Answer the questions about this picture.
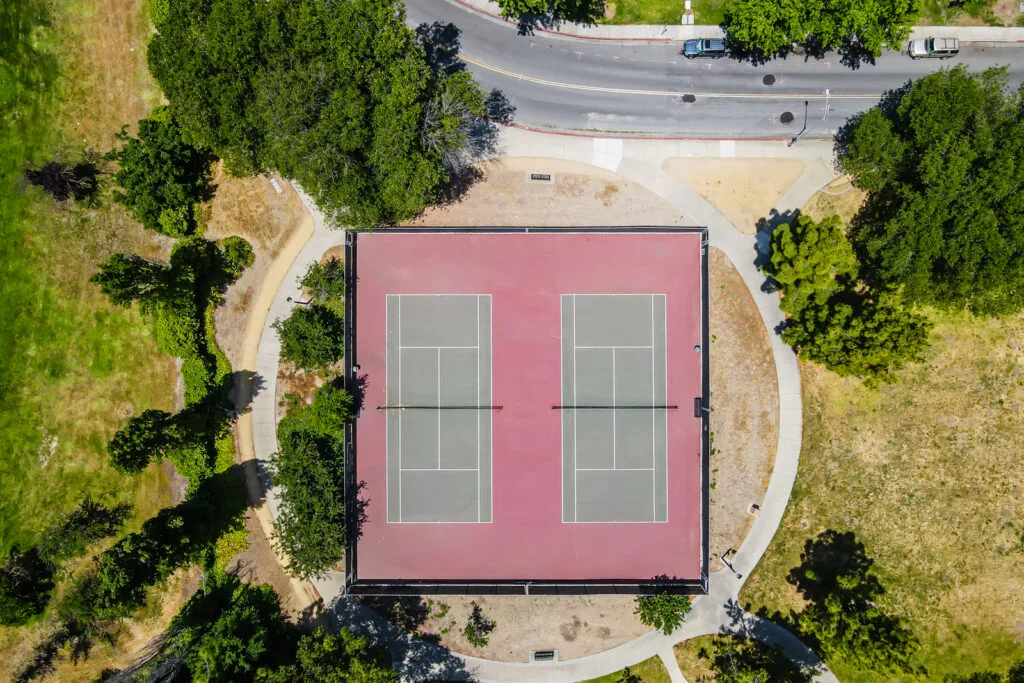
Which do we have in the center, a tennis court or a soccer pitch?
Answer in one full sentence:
There is a tennis court in the center.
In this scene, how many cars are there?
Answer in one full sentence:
My tally gives 2 cars in this view.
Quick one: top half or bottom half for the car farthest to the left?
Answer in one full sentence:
The car farthest to the left is in the top half of the image.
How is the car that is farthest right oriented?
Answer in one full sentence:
I'd say the car that is farthest right is aligned from left to right in the picture.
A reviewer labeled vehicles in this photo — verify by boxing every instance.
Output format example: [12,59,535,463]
[683,36,727,59]
[907,36,958,59]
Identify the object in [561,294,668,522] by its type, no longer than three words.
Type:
tennis court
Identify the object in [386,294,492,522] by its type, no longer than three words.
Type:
tennis court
